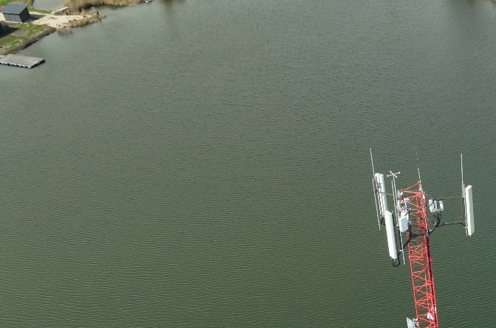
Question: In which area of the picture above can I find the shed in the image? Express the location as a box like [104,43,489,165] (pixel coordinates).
[0,0,39,22]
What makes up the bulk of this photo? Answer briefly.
water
